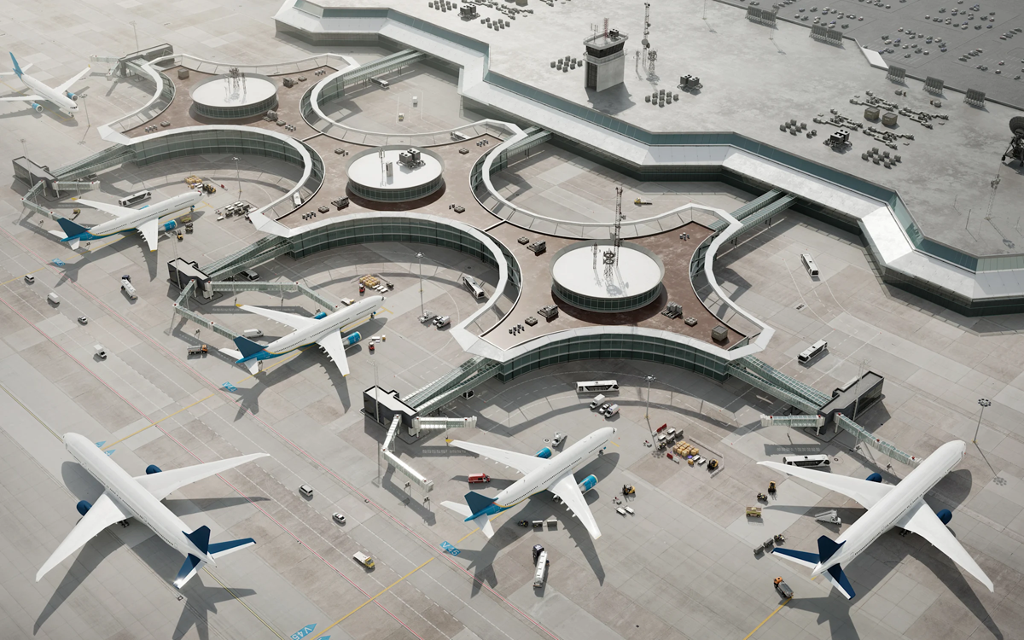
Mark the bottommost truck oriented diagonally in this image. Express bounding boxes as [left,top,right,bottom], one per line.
[771,575,796,601]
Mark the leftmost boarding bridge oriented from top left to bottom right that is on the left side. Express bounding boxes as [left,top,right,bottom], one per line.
[17,180,87,230]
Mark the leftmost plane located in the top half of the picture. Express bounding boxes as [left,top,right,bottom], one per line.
[0,52,91,115]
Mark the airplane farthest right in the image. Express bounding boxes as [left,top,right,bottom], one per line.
[757,440,991,598]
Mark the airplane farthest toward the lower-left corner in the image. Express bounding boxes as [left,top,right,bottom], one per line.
[34,430,267,586]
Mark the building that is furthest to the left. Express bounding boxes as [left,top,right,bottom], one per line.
[13,158,70,202]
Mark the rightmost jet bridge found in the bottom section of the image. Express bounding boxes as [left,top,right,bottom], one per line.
[836,413,928,469]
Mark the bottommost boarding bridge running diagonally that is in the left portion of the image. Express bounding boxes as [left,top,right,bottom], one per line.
[378,414,440,498]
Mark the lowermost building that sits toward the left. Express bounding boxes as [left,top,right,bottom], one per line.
[360,386,431,444]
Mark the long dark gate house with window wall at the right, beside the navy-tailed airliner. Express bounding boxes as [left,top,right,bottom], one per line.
[804,373,886,443]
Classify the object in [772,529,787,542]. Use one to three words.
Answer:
vehicle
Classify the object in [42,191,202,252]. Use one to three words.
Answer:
airplane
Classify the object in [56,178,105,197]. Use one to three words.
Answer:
jet bridge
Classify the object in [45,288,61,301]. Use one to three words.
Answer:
vehicle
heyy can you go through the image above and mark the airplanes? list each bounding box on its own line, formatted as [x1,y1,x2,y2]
[0,52,91,115]
[214,294,385,375]
[757,440,991,598]
[436,425,616,537]
[42,191,202,252]
[34,430,267,586]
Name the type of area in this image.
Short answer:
airport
